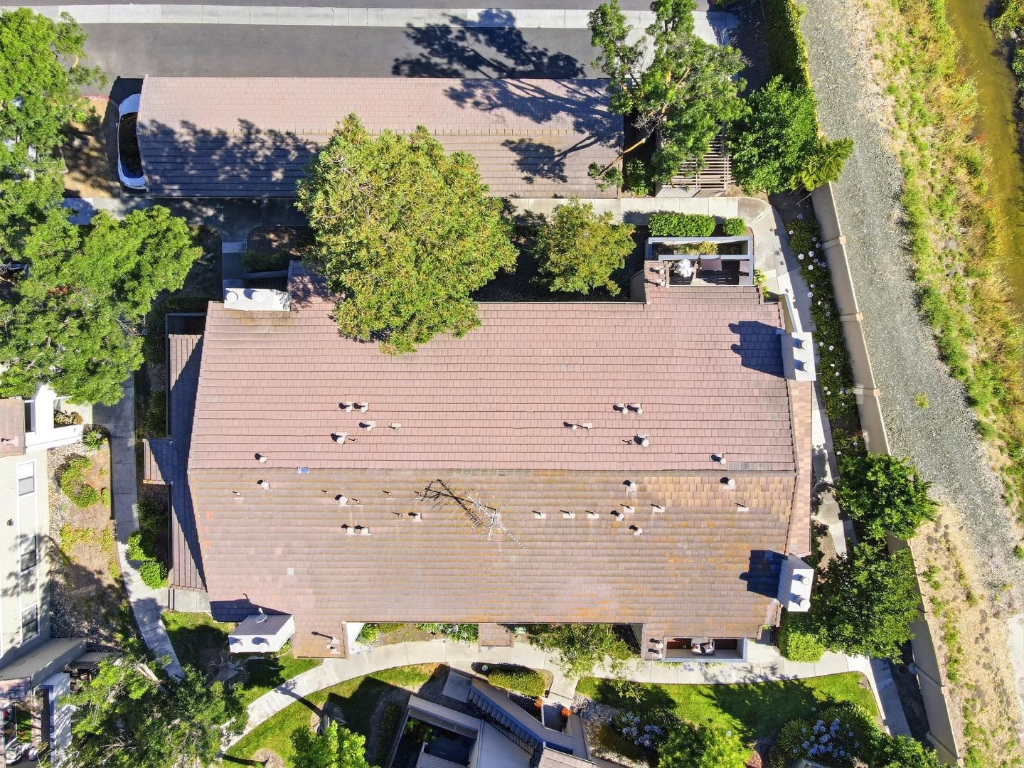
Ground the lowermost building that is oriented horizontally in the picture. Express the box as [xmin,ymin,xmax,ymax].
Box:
[389,670,599,768]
